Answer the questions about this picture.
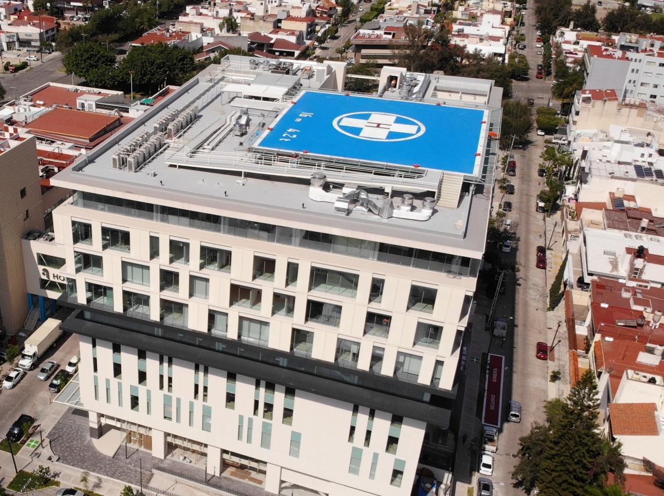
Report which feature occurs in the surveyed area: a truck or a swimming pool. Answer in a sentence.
The image shows a truck.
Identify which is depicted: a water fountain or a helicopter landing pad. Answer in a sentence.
Of the two, only a helicopter landing pad appears.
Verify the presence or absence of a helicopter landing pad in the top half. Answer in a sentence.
Yes, a helicopter landing pad shows up in the top half.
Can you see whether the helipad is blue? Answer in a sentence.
Yes, the helipad is indeed blue.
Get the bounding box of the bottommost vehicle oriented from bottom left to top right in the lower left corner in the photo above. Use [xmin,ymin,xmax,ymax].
[0,411,40,441]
